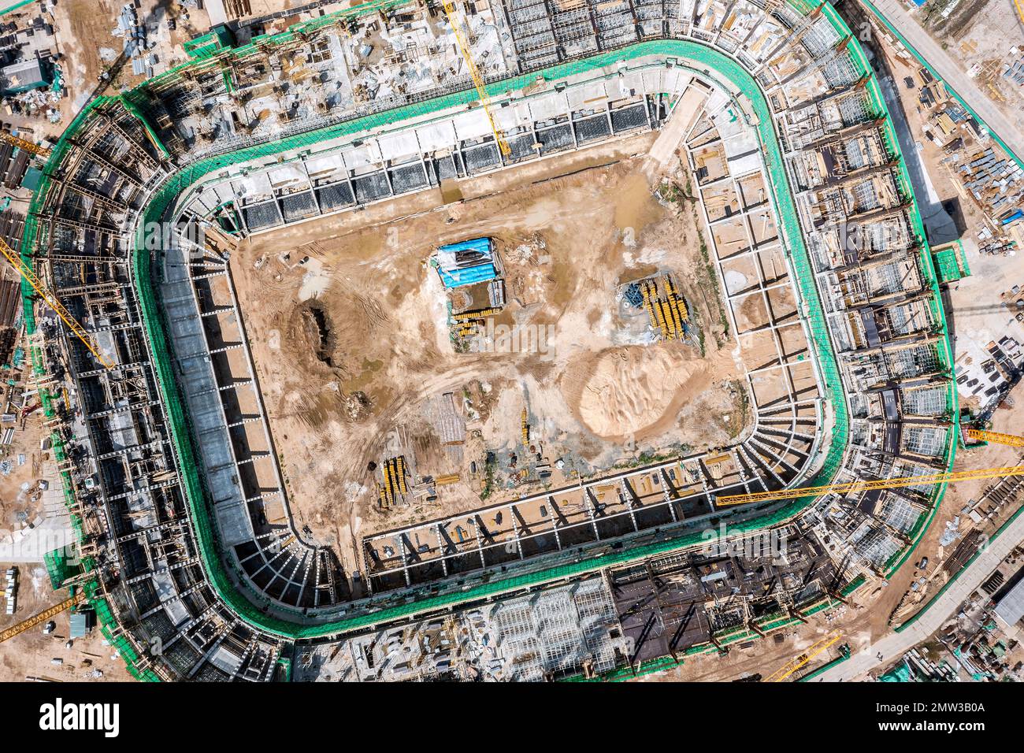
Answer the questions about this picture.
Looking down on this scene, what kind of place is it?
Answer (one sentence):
The area seen from above is a sports ground.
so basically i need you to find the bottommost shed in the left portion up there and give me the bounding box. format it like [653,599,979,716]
[68,612,92,639]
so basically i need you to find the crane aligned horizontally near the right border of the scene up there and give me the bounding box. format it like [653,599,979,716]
[713,421,1024,506]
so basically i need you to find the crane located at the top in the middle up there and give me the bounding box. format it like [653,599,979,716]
[442,0,510,156]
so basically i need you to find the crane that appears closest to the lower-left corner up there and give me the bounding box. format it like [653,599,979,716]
[0,584,94,655]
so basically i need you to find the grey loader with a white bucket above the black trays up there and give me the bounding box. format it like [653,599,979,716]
[1001,336,1024,356]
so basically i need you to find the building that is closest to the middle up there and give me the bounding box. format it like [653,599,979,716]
[439,239,505,288]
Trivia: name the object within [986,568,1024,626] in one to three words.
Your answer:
shed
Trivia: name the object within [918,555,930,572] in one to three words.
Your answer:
vehicle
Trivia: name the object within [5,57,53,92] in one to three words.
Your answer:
shed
